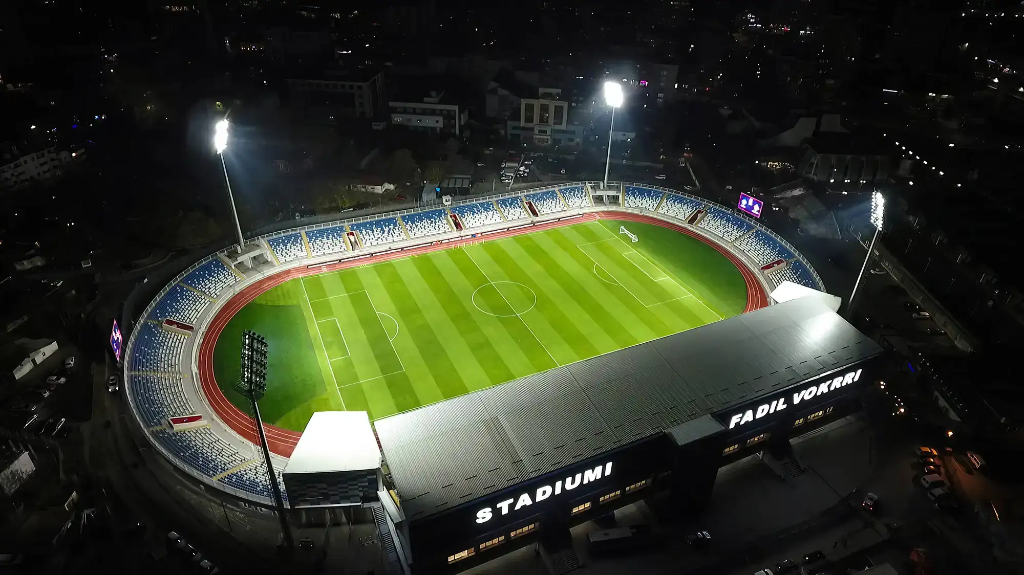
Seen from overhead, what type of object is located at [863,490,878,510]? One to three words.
car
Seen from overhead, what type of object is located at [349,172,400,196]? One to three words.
house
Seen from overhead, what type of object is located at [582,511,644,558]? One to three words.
bus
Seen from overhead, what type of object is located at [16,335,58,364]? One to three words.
shed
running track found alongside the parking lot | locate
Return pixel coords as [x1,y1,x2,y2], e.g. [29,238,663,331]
[197,211,771,455]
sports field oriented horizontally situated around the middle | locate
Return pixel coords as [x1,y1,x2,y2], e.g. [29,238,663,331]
[297,219,730,428]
